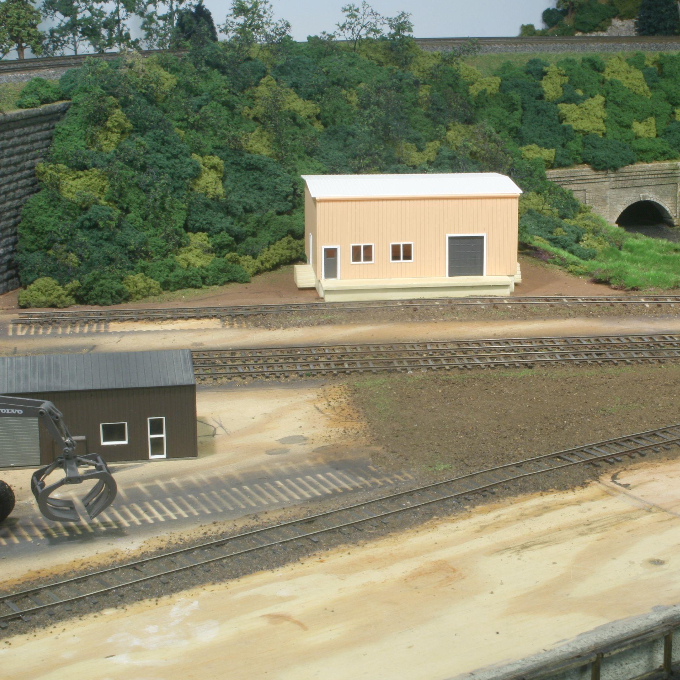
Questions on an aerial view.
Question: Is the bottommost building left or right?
left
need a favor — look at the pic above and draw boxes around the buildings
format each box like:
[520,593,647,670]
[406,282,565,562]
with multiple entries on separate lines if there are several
[0,344,199,471]
[296,172,523,302]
